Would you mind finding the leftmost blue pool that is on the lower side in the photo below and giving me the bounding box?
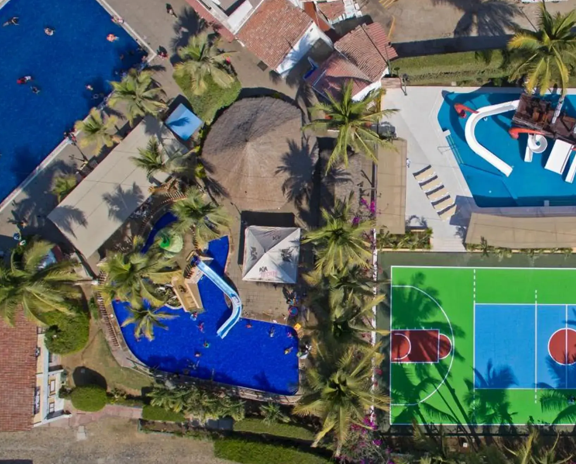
[109,208,301,399]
